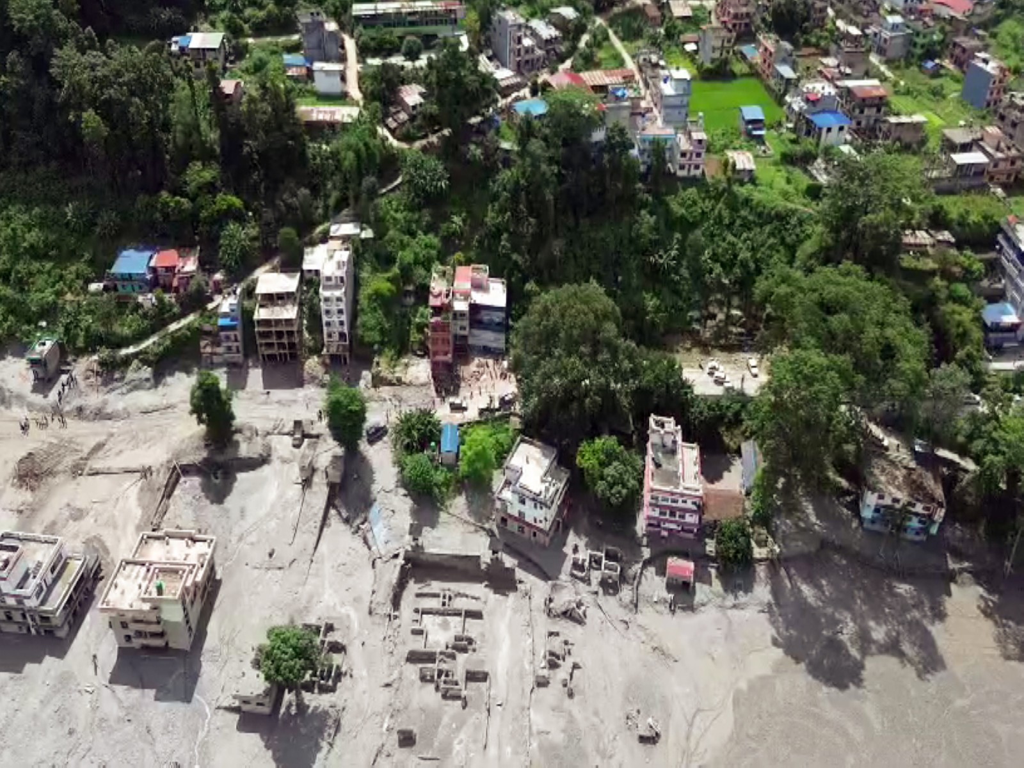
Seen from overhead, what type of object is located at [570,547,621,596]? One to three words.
house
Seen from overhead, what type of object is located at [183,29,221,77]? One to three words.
house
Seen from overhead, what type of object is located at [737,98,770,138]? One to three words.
shed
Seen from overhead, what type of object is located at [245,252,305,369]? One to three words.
building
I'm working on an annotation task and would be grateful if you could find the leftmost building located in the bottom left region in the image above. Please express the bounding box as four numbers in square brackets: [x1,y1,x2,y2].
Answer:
[0,525,103,636]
